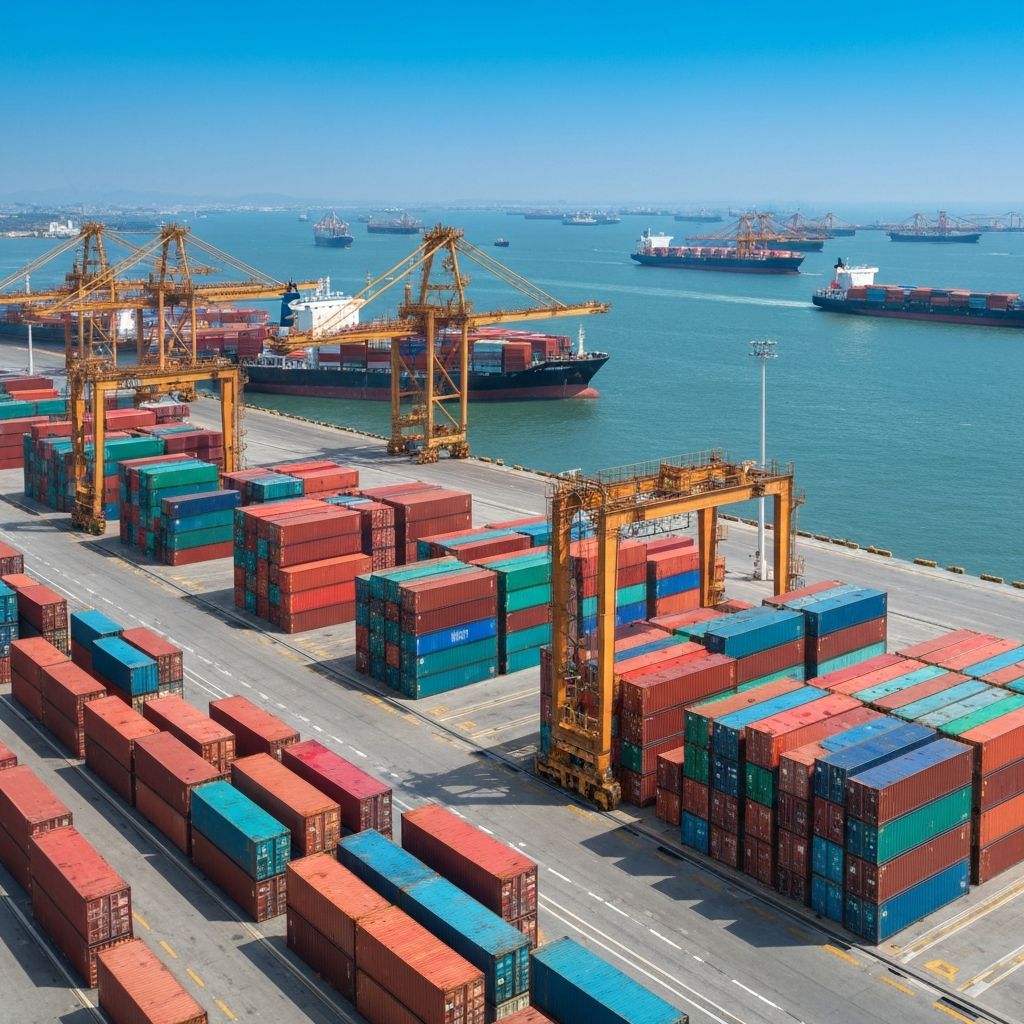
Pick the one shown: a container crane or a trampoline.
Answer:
container crane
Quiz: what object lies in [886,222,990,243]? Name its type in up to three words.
ship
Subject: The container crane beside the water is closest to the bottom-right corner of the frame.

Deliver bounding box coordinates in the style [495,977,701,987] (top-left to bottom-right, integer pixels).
[529,439,810,804]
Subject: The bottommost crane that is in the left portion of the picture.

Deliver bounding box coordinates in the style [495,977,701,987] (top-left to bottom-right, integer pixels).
[65,349,260,531]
